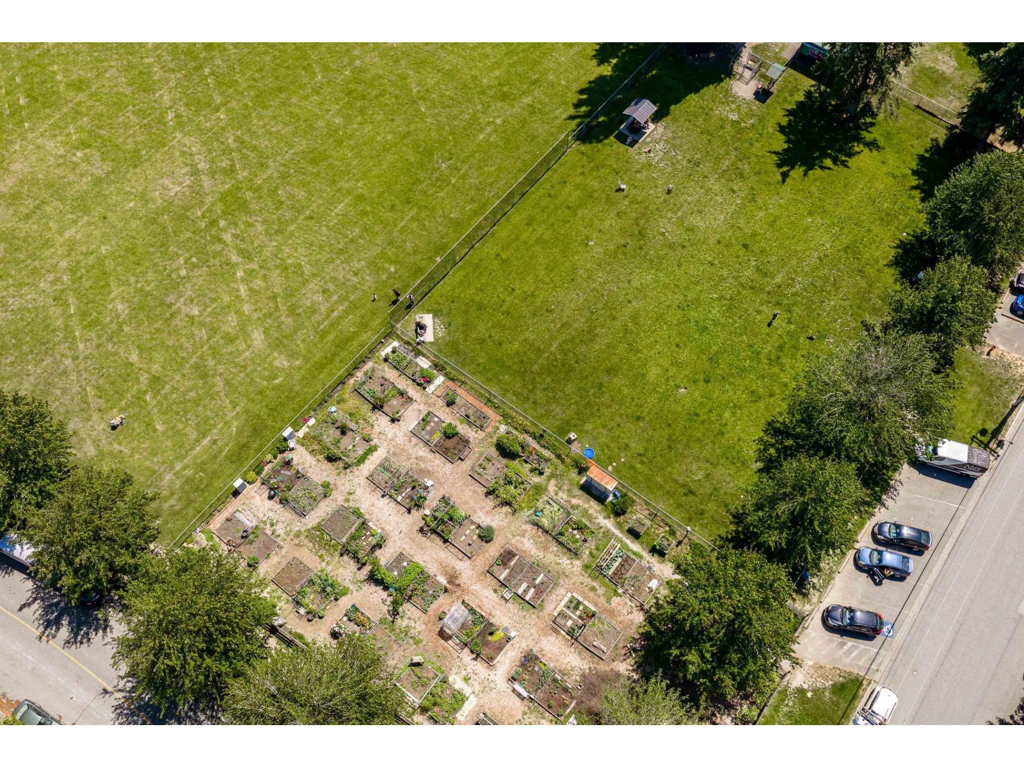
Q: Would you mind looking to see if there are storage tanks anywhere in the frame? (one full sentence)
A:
No, there is no storage tank in the image.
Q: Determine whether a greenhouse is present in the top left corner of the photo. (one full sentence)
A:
No, no greenhouse appears in the top left corner of the photo.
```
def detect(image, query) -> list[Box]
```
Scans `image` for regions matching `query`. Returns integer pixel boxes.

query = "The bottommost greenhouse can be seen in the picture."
[437,602,474,643]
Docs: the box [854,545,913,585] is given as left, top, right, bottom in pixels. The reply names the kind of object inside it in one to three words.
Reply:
car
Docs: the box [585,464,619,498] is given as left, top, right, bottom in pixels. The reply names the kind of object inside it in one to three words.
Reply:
shed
